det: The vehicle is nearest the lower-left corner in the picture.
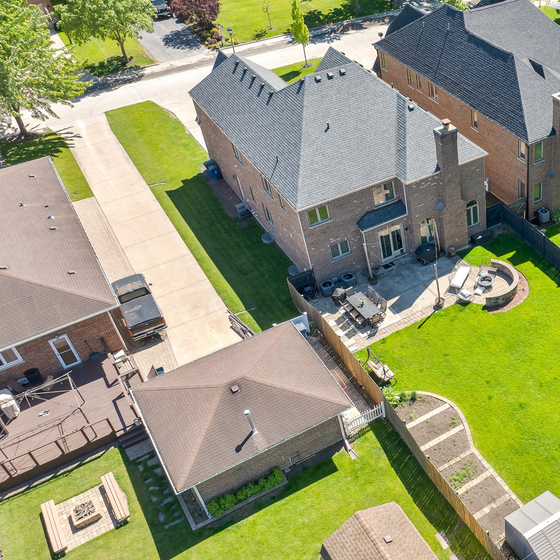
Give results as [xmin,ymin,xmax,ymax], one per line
[112,273,167,338]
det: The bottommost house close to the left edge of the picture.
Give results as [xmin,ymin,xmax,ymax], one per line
[0,151,132,395]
